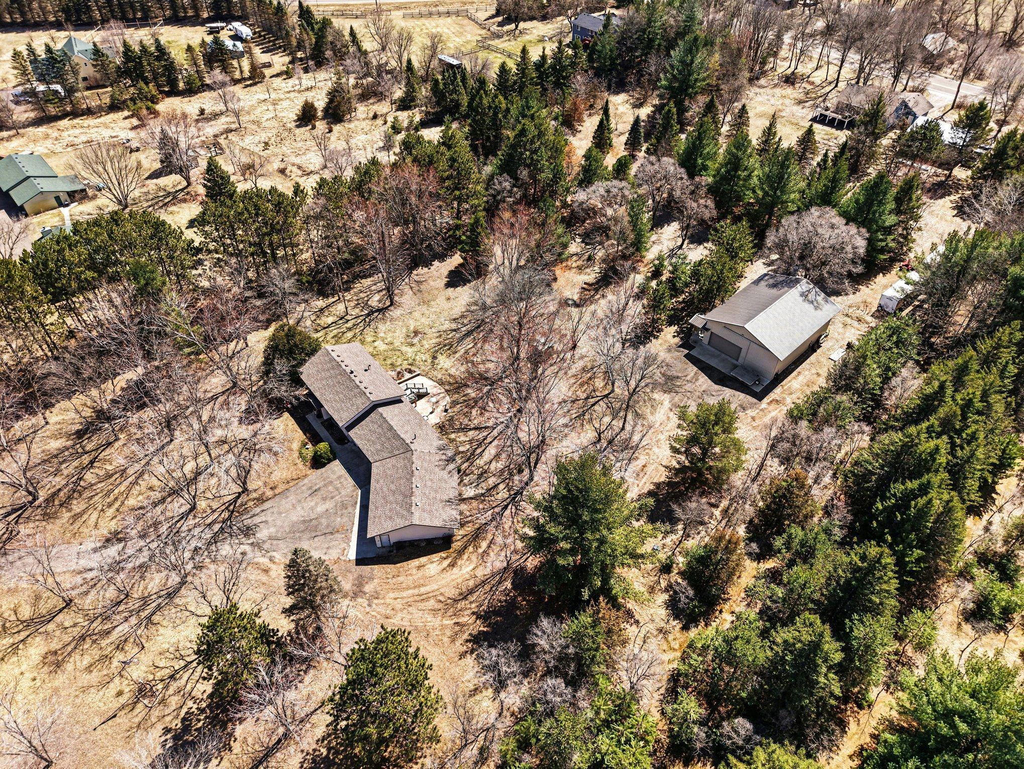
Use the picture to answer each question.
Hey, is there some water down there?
No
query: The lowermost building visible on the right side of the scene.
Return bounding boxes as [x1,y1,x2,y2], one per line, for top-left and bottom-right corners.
[687,273,842,381]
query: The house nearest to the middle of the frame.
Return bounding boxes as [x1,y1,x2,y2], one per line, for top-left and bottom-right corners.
[299,342,460,546]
